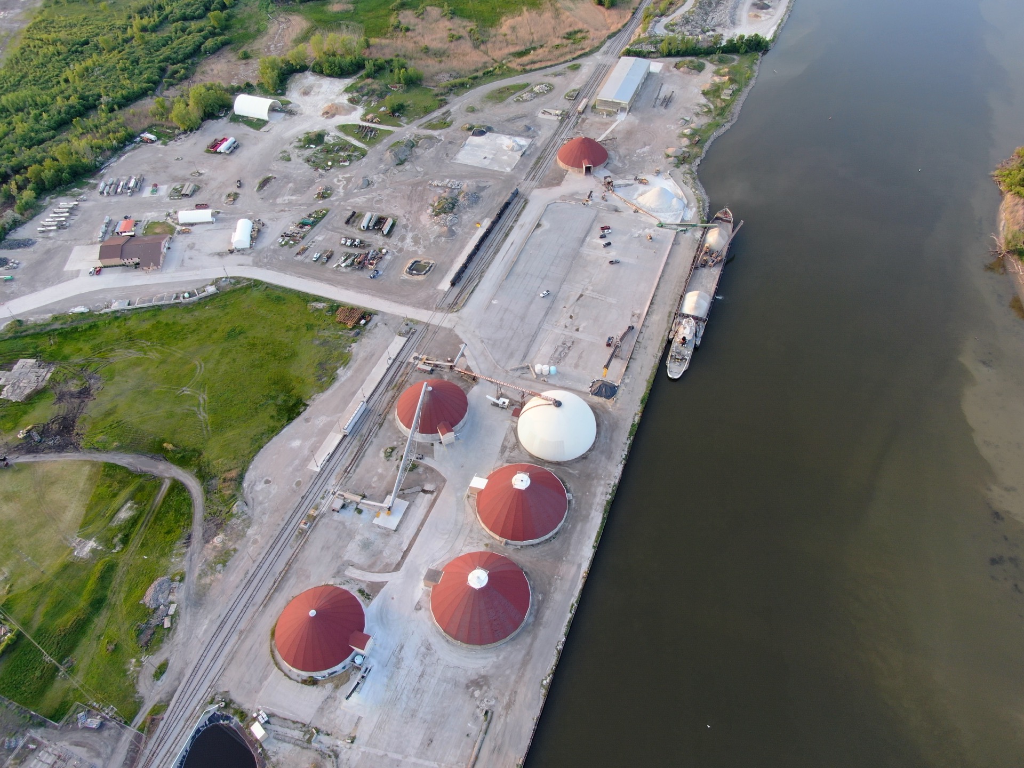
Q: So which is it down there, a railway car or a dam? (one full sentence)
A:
There is a railway car in the scene.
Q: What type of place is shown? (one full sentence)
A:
What you see here is a port.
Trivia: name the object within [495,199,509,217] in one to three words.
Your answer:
rail car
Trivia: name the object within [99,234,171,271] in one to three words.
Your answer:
building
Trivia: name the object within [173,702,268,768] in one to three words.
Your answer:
pond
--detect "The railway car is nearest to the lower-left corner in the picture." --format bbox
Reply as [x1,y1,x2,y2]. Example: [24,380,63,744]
[340,395,367,432]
